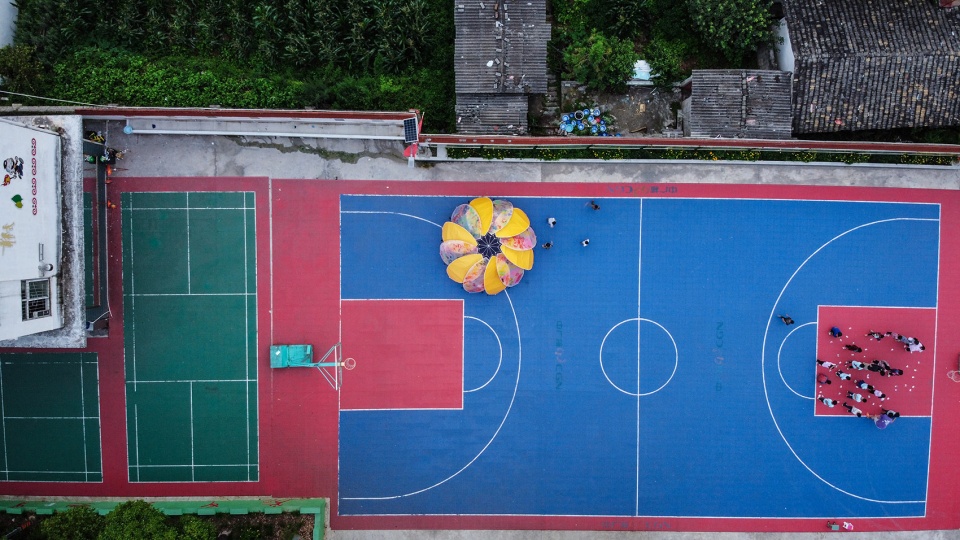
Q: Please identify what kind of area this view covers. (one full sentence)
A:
The area seen from above is a sports ground.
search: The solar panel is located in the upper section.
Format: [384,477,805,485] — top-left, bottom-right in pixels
[405,118,417,141]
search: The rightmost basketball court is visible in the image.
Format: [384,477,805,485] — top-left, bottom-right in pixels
[272,179,960,532]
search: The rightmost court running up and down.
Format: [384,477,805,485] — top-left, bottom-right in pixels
[121,191,259,483]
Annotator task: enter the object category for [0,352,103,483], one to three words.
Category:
sports court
